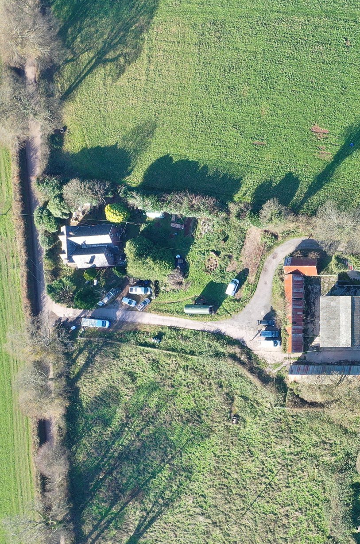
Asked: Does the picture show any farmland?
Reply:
Yes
